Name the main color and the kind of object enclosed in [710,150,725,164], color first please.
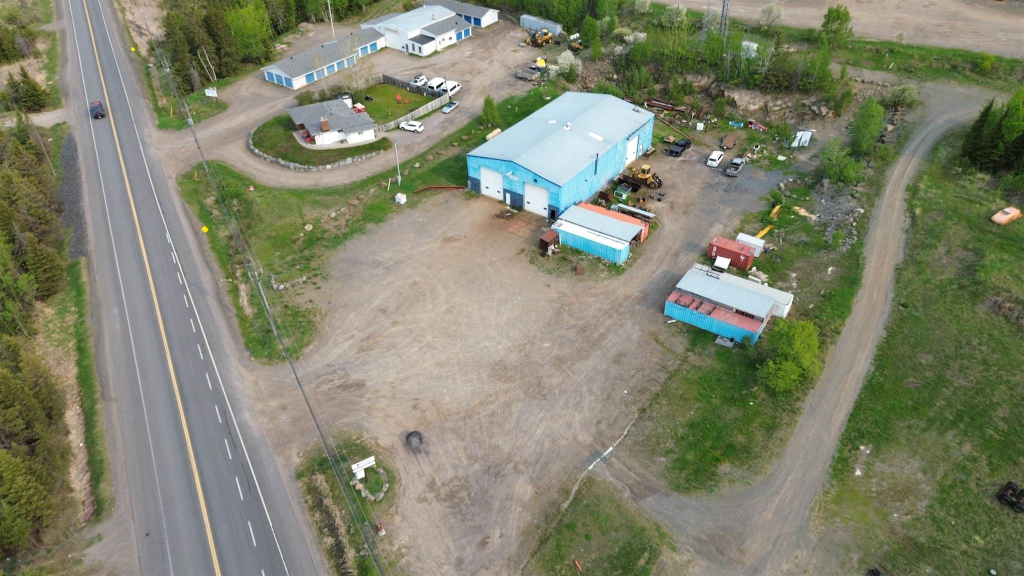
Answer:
white car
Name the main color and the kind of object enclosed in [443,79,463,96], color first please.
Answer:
white vehicle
